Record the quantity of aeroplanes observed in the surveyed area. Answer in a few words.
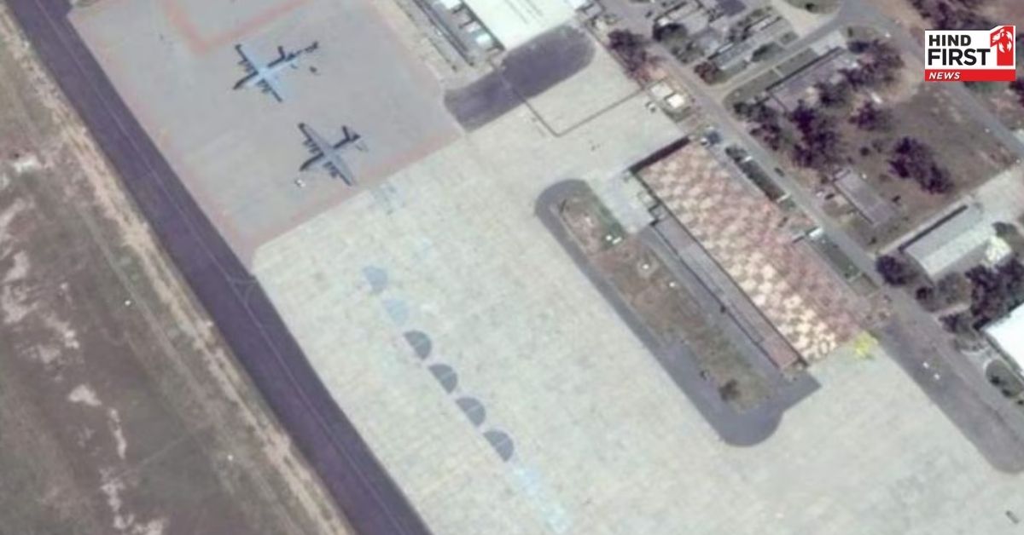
2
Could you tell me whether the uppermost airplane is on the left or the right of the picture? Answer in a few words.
left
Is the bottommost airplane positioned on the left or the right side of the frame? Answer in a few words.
left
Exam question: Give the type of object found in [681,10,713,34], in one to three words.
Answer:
house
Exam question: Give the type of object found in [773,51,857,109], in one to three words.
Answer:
building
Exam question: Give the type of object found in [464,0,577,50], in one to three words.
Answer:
hangar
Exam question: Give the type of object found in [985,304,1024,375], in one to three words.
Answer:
building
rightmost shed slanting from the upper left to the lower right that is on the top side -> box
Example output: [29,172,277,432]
[840,171,893,223]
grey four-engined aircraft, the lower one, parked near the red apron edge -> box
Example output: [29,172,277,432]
[309,121,369,187]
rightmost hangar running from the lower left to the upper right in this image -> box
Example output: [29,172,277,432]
[907,204,1001,274]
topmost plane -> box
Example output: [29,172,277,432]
[242,40,301,105]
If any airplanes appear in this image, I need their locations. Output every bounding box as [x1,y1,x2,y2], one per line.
[242,40,301,105]
[309,121,369,187]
